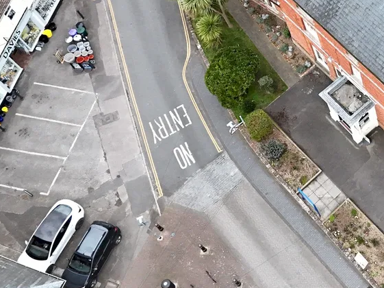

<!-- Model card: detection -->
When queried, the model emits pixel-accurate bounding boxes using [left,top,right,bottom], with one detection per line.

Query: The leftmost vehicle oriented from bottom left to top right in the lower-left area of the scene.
[25,197,90,274]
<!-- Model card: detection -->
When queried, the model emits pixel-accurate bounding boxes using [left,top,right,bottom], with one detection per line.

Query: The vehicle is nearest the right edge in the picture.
[65,217,125,288]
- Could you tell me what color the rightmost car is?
black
